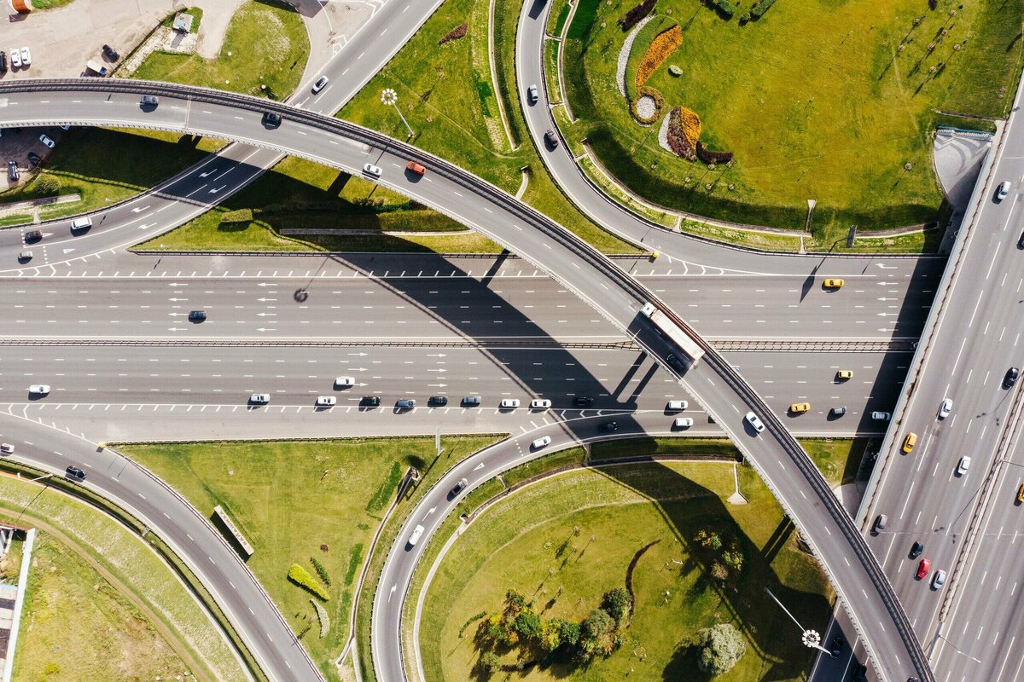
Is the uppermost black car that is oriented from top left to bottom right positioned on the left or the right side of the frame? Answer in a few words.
left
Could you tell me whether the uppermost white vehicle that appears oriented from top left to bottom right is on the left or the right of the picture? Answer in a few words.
left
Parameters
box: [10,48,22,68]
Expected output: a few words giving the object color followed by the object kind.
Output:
white vehicle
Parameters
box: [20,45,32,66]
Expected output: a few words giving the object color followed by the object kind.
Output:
white vehicle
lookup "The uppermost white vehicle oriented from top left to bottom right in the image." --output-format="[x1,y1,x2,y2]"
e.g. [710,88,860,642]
[83,57,111,77]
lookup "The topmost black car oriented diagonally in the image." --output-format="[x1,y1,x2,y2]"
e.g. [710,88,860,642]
[100,43,121,63]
